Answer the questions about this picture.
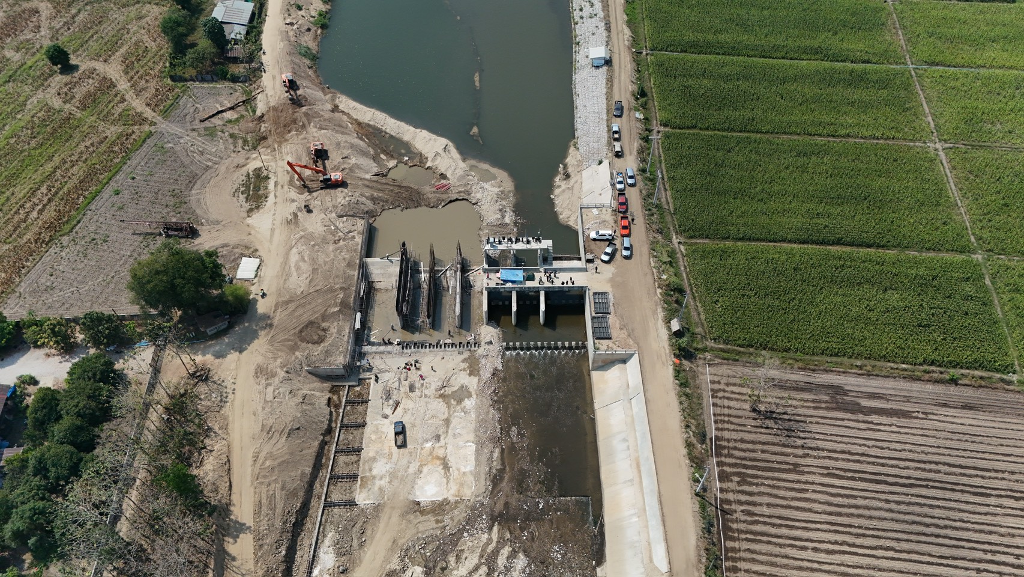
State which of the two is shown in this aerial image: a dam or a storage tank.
dam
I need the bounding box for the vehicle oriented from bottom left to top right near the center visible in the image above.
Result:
[600,239,618,262]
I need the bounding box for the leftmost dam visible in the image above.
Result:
[302,212,483,394]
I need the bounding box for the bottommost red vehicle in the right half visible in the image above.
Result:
[619,215,631,235]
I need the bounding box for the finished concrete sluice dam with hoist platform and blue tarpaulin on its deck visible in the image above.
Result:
[483,202,643,371]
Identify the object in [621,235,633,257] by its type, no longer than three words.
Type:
vehicle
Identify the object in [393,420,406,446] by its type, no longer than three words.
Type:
vehicle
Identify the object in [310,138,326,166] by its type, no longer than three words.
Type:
work vehicle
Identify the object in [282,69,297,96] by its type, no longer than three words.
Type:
work vehicle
